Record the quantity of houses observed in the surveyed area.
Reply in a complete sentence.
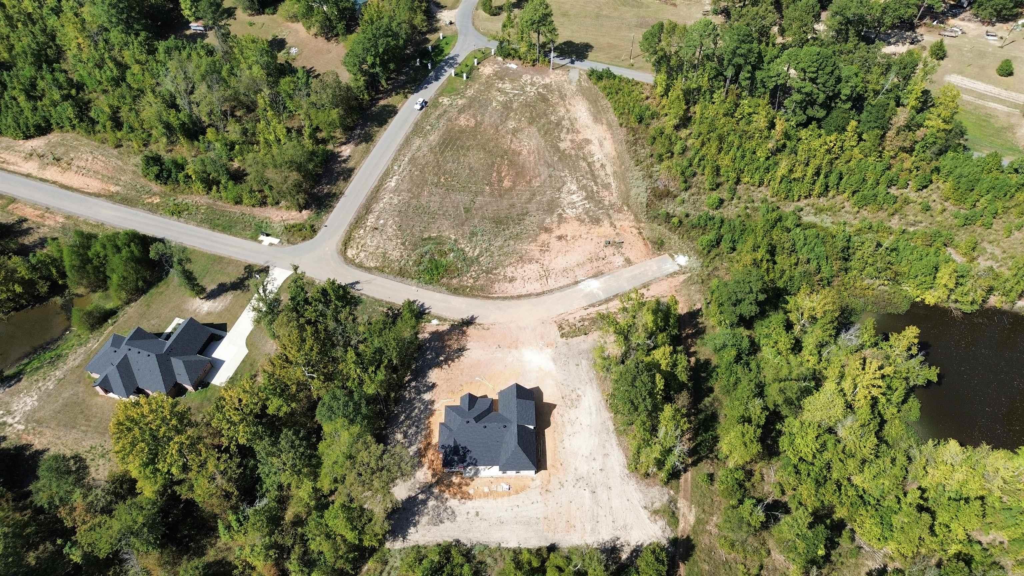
There are 2 houses in the image.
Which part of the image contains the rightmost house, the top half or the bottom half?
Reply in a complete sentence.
The bottom half of the photo is where the rightmost house is.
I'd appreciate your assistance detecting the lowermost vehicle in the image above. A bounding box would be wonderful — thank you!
[413,96,426,110]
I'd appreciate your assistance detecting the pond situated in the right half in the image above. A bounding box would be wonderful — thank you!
[862,304,1024,448]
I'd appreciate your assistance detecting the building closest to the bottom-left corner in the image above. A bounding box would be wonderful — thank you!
[84,315,215,408]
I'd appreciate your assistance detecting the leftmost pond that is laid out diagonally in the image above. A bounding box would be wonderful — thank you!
[0,298,80,373]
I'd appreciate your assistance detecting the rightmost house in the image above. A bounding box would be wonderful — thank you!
[437,381,537,476]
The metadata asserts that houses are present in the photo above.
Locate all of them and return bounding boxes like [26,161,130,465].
[437,381,537,476]
[84,315,215,408]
